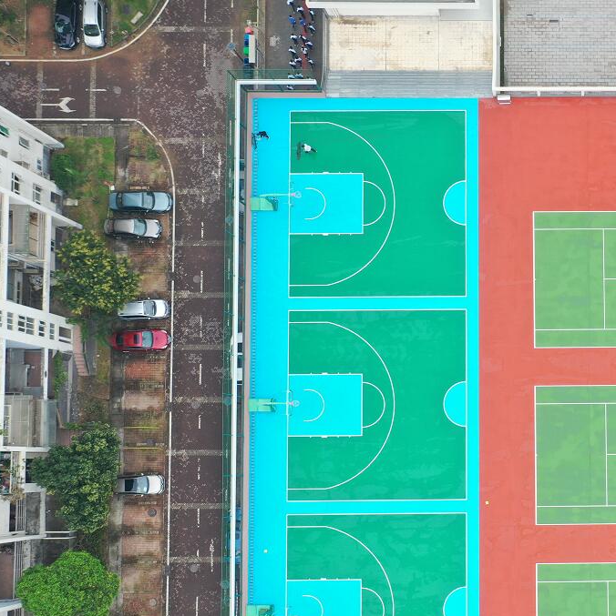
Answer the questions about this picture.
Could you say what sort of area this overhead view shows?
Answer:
sports ground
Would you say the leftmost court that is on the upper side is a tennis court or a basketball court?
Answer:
basketball court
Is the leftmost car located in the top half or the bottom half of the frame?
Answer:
top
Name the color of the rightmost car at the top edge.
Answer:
white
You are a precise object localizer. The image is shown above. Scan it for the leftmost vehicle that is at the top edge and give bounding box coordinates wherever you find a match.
[50,0,82,45]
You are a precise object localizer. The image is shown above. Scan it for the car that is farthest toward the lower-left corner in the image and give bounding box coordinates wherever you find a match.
[109,473,167,499]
